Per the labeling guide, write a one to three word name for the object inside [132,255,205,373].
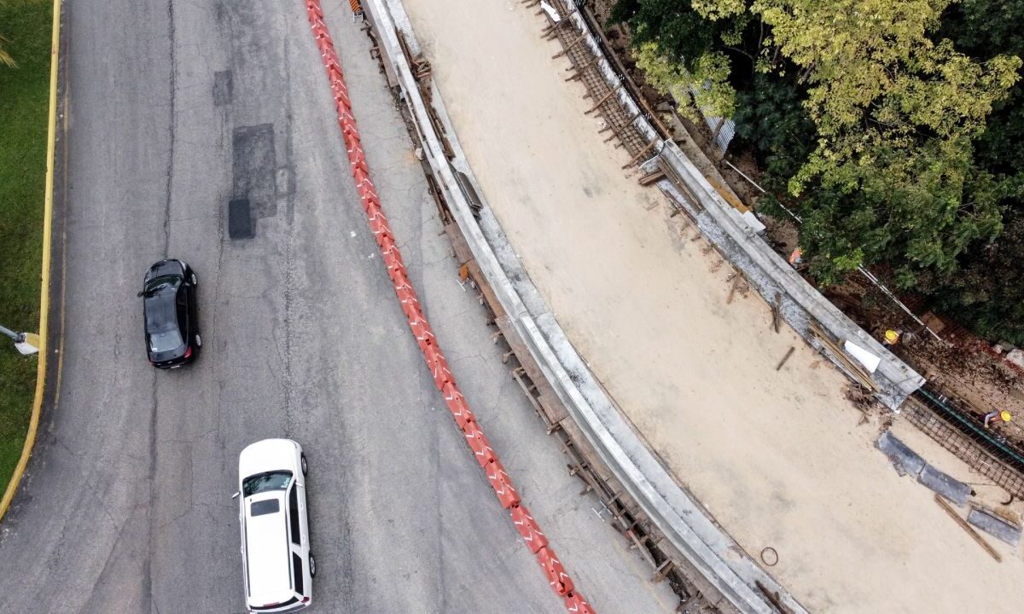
car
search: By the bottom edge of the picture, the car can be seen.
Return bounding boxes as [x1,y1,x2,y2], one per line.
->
[230,437,314,614]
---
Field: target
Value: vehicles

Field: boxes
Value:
[230,437,314,614]
[132,255,205,373]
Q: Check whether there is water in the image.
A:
No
